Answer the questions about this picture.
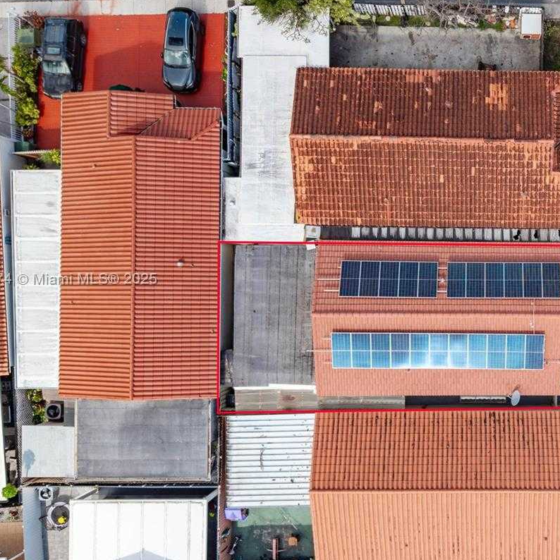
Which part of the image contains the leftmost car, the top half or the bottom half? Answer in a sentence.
The top half of the photo is where the leftmost car is.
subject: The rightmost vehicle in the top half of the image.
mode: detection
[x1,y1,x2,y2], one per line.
[160,8,206,94]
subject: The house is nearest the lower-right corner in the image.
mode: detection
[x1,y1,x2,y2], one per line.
[313,409,560,560]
